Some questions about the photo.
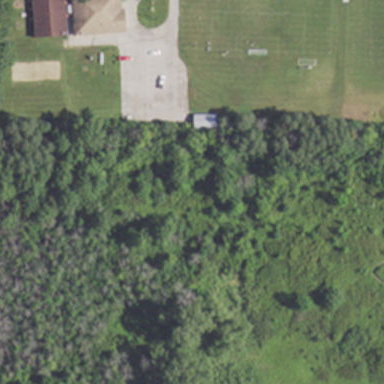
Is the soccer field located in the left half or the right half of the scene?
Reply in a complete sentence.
You can find the soccer field on the right side of the picture.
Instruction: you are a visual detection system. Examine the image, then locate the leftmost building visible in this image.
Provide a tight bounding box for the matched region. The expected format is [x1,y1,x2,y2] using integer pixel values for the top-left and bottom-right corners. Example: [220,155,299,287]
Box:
[32,0,68,36]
